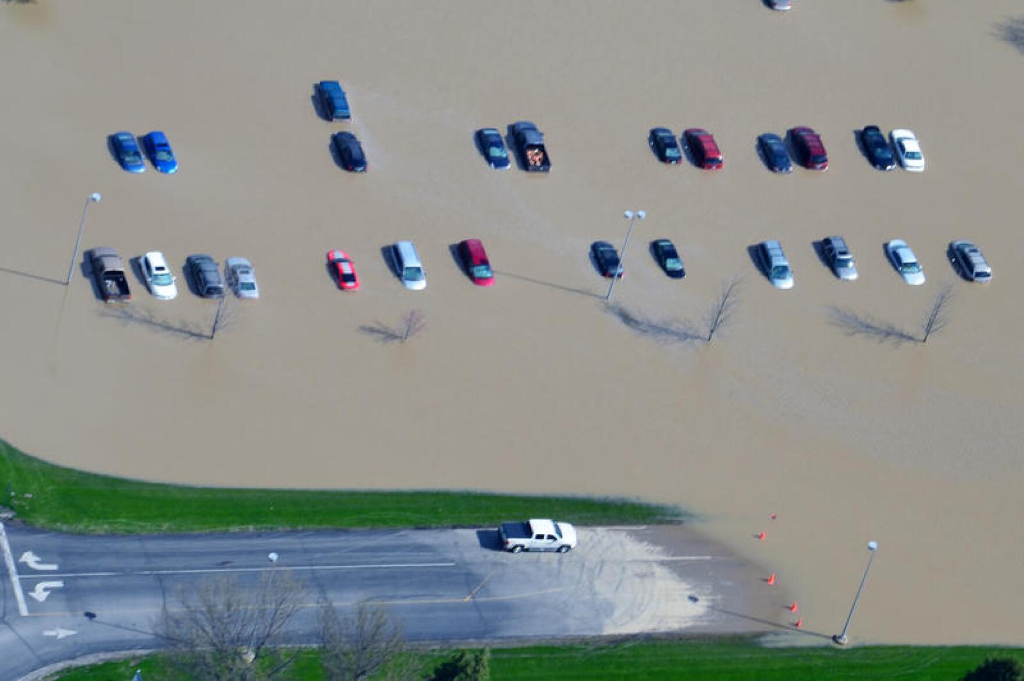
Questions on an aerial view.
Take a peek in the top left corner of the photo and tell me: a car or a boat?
car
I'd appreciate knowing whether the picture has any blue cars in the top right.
Yes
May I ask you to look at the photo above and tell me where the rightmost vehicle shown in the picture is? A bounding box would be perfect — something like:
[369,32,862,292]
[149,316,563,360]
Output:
[955,242,992,283]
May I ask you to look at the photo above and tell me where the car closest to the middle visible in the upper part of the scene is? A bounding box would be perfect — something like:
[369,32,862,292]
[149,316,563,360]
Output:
[461,237,497,286]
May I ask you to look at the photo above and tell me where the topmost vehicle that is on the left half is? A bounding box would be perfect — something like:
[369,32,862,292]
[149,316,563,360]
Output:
[320,83,354,122]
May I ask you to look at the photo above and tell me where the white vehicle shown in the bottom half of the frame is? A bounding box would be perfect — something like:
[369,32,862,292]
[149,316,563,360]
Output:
[500,520,578,553]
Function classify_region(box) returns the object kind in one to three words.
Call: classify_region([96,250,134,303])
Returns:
truck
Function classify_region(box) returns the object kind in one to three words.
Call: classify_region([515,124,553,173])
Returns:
truck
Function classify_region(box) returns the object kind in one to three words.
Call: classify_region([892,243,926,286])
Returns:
car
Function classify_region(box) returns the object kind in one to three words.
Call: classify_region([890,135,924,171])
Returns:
car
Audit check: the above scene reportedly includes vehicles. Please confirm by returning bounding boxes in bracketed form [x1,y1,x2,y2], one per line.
[795,131,830,170]
[593,243,625,278]
[955,242,992,283]
[824,238,858,280]
[757,240,794,289]
[652,129,684,163]
[461,237,497,286]
[147,132,178,174]
[760,136,793,172]
[515,124,553,173]
[690,130,725,169]
[890,135,924,171]
[339,134,372,171]
[142,253,175,301]
[330,252,361,290]
[192,255,226,297]
[892,243,926,286]
[861,129,895,171]
[228,259,260,298]
[500,520,578,553]
[391,239,428,290]
[96,250,134,303]
[769,0,792,10]
[114,130,145,173]
[320,83,354,122]
[654,239,686,280]
[479,128,511,170]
